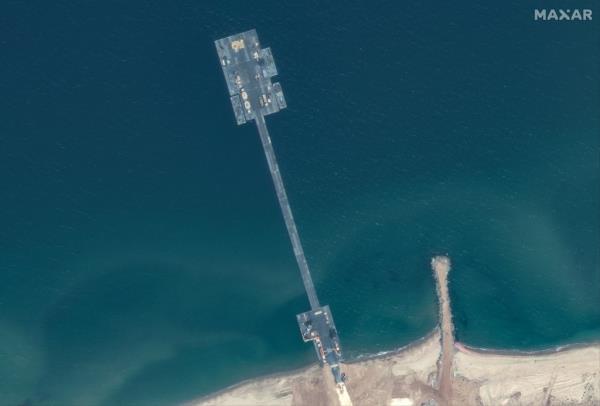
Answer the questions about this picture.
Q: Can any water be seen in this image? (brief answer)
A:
Yes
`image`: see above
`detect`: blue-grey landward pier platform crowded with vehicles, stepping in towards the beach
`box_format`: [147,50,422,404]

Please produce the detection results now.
[296,306,344,364]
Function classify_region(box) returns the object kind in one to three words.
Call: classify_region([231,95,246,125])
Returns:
ship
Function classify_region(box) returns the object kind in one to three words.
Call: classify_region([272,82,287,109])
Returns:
ship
